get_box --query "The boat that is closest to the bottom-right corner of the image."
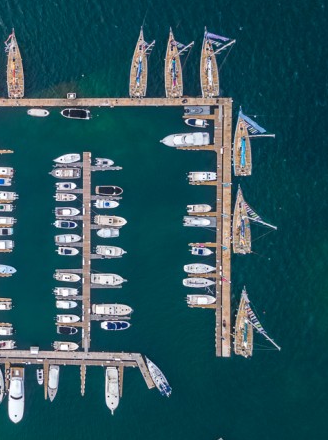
[231,288,275,359]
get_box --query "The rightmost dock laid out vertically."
[176,105,231,357]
